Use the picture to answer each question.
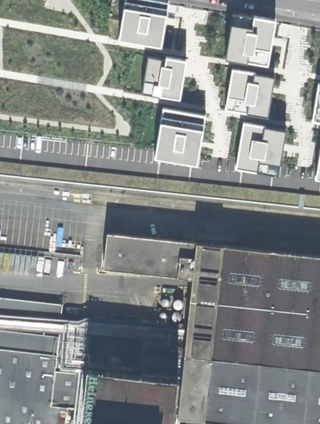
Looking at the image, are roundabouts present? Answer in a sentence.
No, there isn't any roundabout down there.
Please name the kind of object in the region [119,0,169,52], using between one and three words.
building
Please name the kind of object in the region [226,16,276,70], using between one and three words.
building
